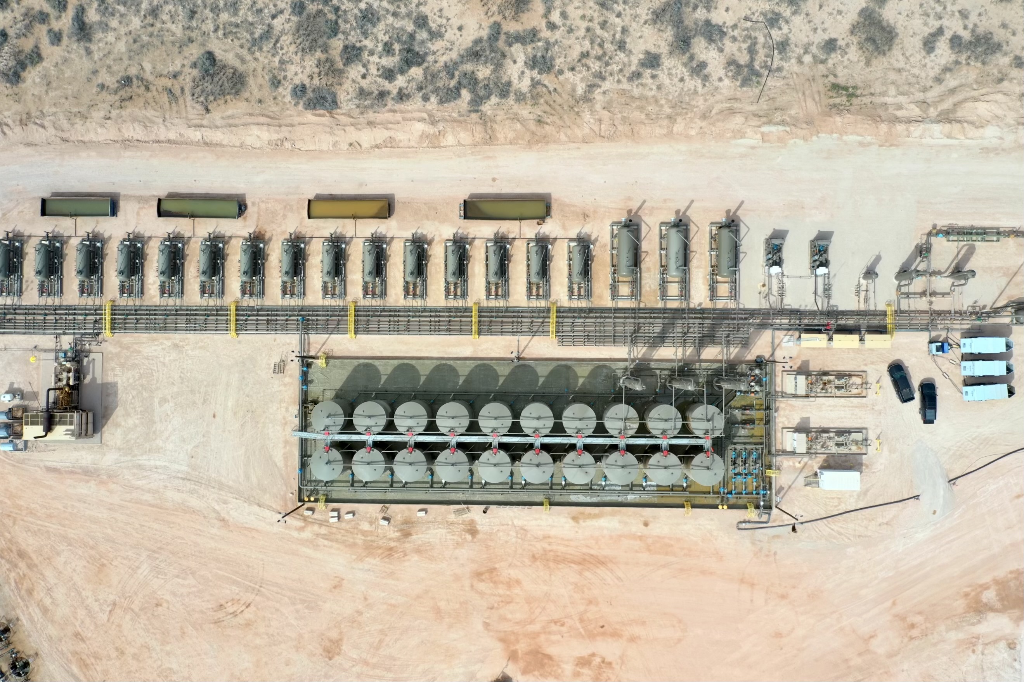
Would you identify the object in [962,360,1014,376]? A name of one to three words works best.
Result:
trailer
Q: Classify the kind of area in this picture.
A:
industrial area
